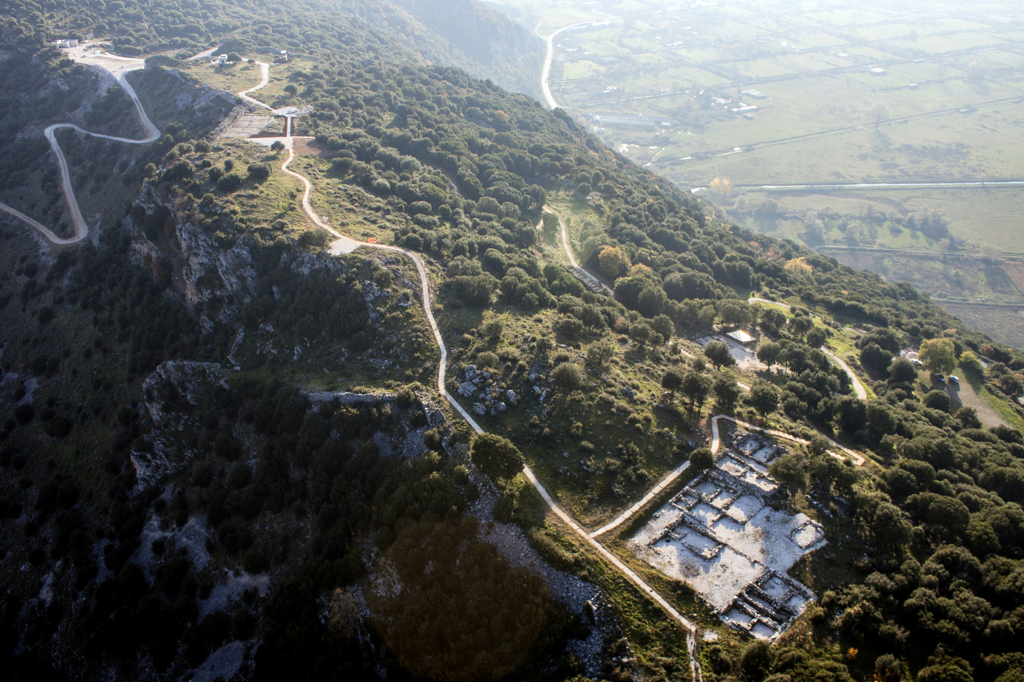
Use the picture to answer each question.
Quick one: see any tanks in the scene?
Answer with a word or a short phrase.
No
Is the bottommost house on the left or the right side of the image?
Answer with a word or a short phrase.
right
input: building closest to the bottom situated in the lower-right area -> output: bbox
[718,567,812,643]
